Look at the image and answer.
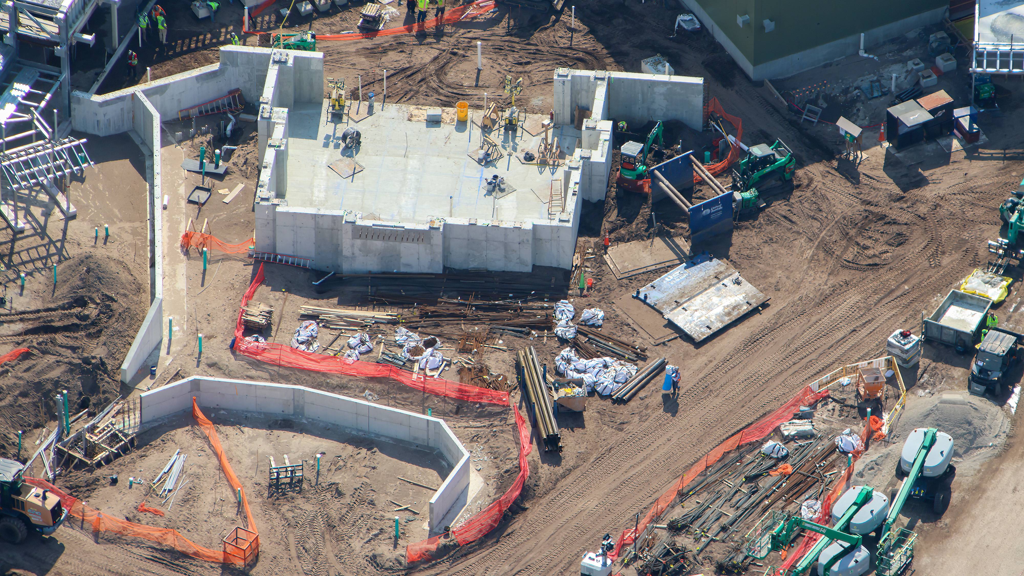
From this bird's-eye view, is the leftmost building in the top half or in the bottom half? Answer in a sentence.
Seen from above, the leftmost building lies in the top half of the view.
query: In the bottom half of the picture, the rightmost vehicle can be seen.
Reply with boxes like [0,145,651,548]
[968,331,1024,400]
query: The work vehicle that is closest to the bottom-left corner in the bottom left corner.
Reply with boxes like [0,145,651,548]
[0,447,74,543]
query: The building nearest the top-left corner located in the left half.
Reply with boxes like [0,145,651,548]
[0,0,124,122]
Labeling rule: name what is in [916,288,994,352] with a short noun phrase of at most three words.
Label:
trailer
